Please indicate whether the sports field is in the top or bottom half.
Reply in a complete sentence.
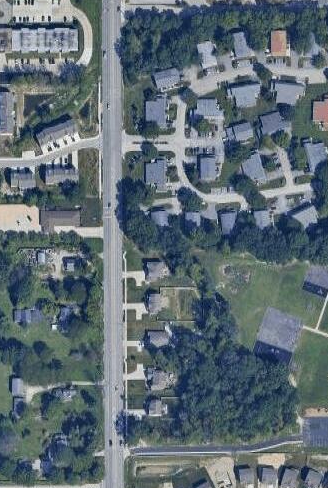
The sports field sits in the bottom half of the picture.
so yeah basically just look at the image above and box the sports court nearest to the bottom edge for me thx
[253,307,302,364]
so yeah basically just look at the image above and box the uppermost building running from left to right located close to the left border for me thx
[0,27,78,52]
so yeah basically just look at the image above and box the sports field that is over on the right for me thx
[196,251,328,407]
